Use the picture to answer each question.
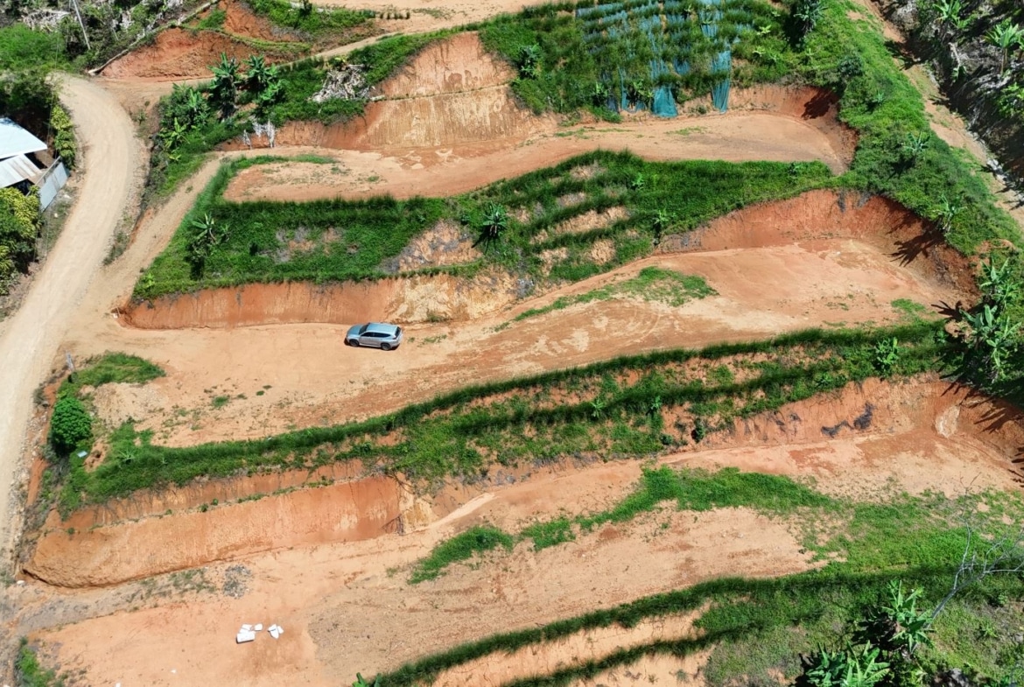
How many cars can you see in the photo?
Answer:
1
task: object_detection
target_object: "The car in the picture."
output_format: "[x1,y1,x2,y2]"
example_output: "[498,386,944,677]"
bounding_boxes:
[344,319,402,347]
